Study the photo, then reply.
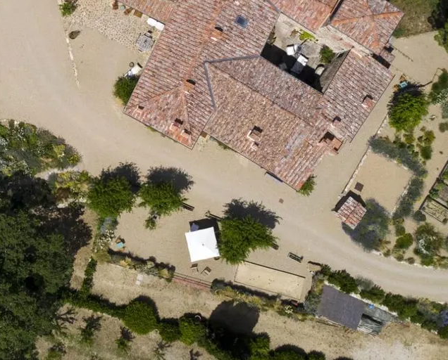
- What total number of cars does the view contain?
0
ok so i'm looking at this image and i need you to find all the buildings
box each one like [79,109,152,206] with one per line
[312,283,365,330]
[330,197,367,229]
[110,0,405,192]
